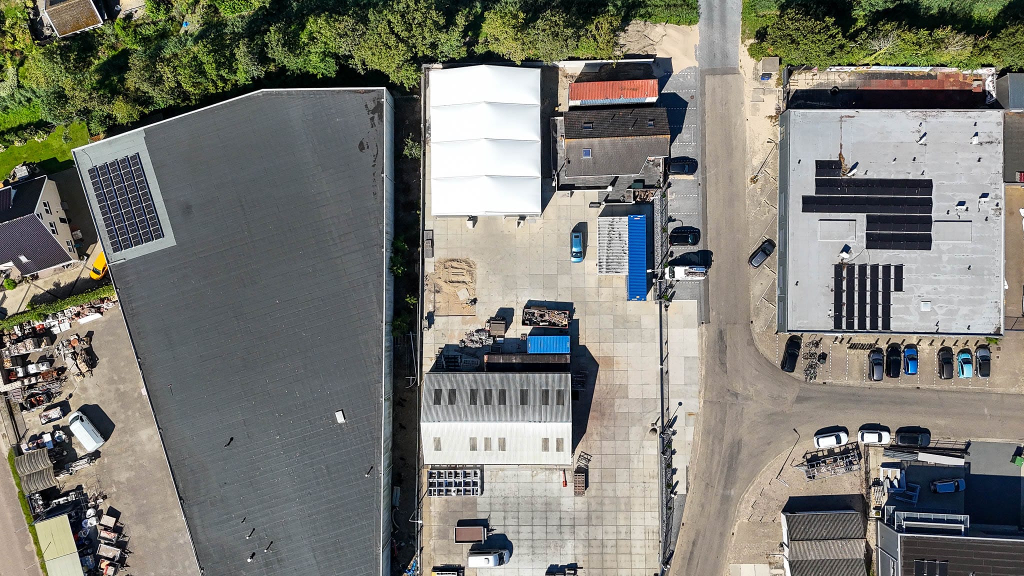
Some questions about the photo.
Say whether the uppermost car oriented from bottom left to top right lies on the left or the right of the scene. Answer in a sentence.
It is on the right.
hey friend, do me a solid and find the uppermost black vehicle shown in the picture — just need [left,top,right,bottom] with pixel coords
[667,159,697,175]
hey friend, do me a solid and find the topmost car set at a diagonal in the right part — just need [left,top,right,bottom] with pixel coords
[746,238,776,269]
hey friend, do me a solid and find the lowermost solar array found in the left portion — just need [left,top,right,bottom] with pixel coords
[89,153,161,253]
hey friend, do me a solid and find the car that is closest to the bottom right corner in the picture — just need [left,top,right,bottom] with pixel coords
[929,477,963,494]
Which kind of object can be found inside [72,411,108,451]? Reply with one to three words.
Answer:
van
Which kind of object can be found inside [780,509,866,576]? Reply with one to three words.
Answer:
building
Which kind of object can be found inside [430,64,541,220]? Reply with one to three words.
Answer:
tent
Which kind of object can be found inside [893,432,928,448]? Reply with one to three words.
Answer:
car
